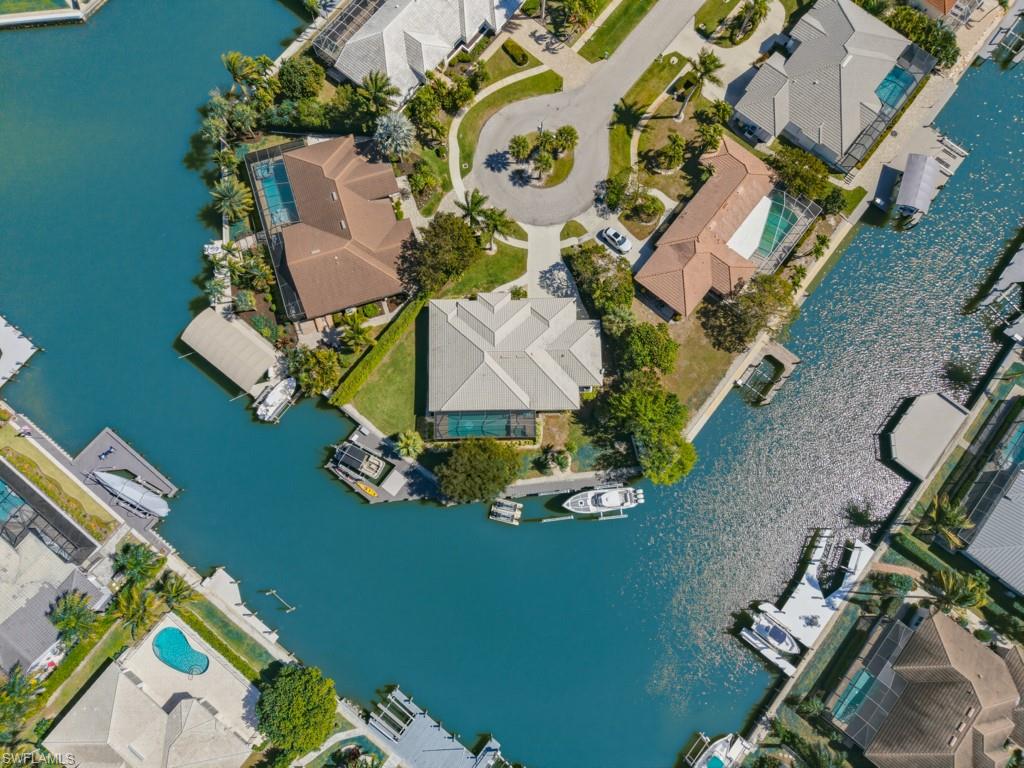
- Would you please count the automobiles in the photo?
1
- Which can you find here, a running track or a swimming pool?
swimming pool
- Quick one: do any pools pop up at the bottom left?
Yes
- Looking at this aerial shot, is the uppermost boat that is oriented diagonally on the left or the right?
left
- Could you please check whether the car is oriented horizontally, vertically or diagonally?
diagonally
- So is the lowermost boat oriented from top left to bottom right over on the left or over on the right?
right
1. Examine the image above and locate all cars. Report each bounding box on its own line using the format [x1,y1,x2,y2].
[600,226,633,254]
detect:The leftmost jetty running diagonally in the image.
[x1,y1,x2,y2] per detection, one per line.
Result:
[12,414,179,557]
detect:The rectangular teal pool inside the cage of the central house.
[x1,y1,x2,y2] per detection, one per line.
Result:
[436,409,534,438]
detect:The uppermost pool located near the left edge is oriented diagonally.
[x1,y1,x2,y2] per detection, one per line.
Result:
[0,477,86,557]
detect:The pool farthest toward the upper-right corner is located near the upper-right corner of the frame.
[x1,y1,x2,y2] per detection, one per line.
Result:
[846,44,935,158]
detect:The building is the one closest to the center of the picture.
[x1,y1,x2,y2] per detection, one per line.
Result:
[429,293,603,411]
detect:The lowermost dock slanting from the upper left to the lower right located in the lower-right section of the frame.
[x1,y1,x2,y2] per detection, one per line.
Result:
[763,645,798,676]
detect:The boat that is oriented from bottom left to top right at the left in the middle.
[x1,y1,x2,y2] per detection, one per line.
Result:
[251,377,293,425]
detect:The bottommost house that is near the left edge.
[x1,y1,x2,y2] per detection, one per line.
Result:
[42,658,261,768]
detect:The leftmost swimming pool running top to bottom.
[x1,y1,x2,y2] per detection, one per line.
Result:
[247,142,318,318]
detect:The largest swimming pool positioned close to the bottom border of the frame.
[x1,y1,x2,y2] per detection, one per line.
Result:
[827,626,895,735]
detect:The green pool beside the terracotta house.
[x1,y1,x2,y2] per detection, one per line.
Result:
[743,189,819,273]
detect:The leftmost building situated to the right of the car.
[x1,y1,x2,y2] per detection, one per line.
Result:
[633,137,777,316]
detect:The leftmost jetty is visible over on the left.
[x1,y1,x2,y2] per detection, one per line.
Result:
[0,314,43,392]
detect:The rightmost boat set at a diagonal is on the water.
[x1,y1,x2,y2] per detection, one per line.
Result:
[748,611,804,656]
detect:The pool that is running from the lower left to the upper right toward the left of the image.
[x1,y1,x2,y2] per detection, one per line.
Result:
[317,0,385,59]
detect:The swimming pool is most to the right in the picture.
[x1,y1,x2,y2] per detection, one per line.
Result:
[956,425,1024,534]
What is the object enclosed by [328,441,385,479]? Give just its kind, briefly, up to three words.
boat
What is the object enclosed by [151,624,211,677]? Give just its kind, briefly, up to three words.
swimming pool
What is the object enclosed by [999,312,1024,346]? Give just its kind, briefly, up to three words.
pier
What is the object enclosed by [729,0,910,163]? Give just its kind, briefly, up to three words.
house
